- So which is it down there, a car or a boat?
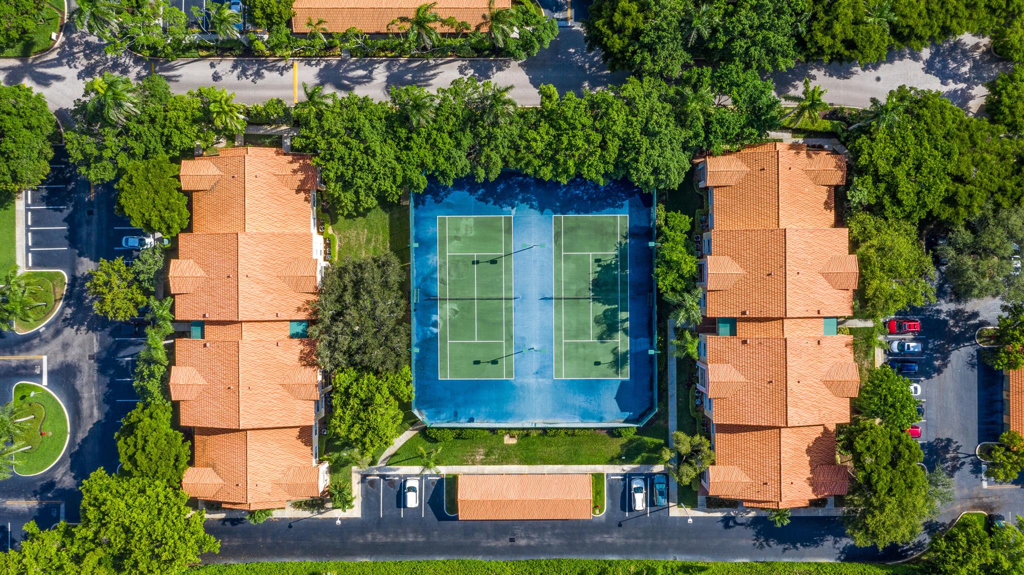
car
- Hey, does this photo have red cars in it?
Yes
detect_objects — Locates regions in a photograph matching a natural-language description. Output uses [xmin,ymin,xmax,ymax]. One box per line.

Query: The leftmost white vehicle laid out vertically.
[404,477,419,508]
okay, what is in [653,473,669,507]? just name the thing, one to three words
car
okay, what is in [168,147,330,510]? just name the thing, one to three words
building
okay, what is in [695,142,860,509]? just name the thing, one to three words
building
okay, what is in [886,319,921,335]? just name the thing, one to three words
car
